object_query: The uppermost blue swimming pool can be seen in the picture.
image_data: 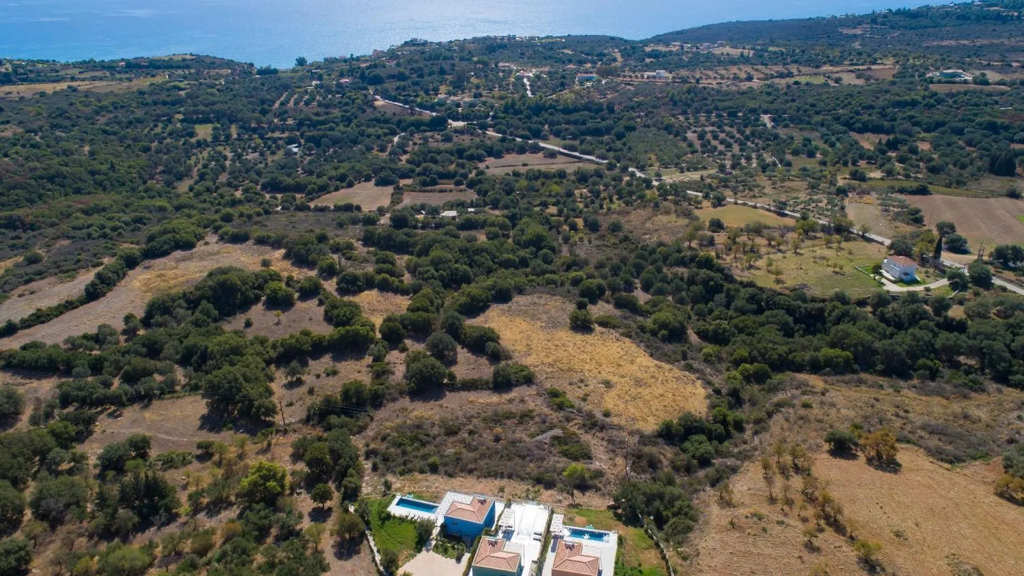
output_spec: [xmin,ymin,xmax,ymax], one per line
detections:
[395,496,440,514]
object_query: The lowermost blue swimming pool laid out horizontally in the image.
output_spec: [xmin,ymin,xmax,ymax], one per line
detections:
[564,527,611,542]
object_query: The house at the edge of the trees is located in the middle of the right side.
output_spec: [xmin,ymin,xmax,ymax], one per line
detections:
[882,256,923,286]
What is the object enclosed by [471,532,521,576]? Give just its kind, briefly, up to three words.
house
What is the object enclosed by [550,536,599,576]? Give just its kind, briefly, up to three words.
house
